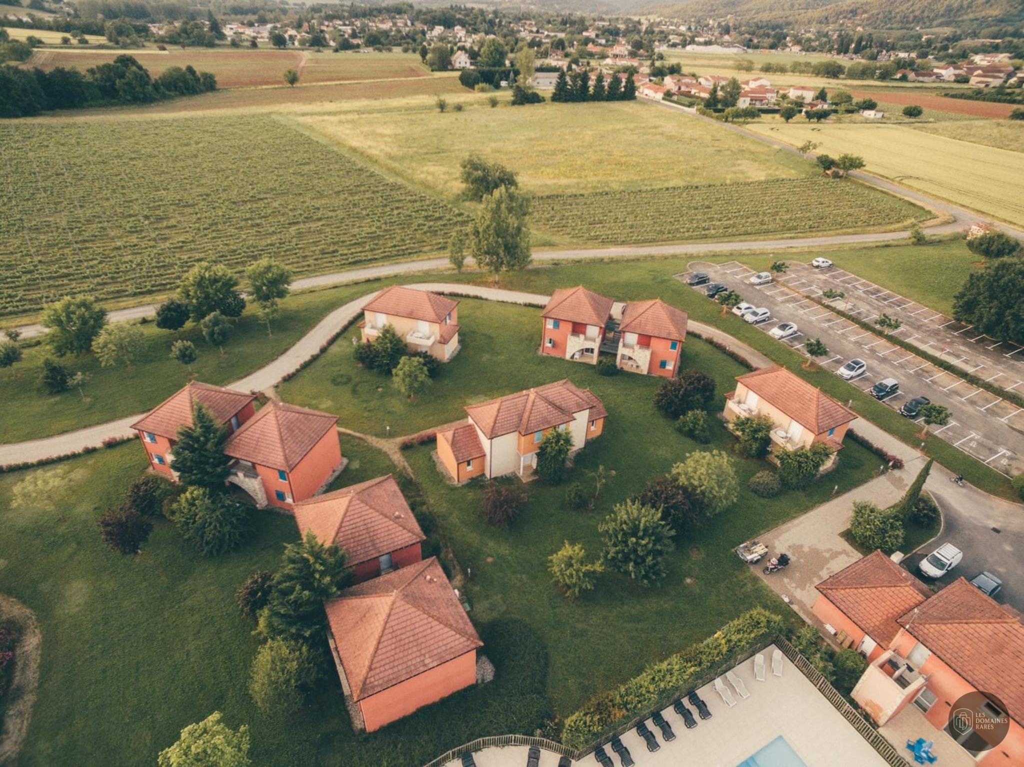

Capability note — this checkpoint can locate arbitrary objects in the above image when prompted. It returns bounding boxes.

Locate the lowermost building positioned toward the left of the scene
[325,553,481,733]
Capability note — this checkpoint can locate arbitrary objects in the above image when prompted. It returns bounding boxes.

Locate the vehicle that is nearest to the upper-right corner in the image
[813,258,835,270]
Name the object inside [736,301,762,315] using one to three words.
car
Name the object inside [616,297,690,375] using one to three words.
house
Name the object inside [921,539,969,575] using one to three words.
van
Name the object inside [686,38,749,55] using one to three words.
building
